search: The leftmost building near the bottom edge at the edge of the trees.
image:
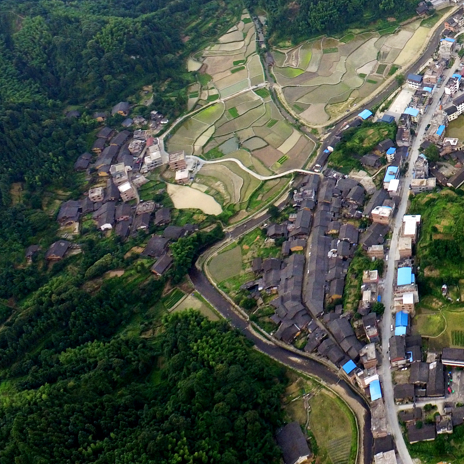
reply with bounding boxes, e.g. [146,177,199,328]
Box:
[281,424,319,464]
